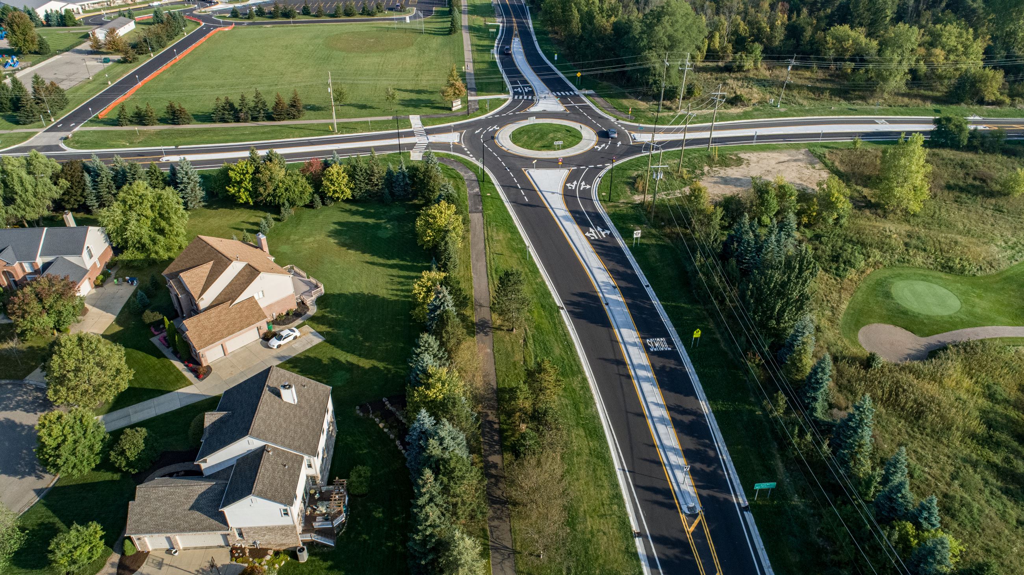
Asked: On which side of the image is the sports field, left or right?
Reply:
left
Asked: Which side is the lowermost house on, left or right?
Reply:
left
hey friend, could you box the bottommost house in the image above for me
[124,364,335,553]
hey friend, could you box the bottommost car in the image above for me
[264,326,301,348]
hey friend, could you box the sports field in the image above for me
[0,0,509,155]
